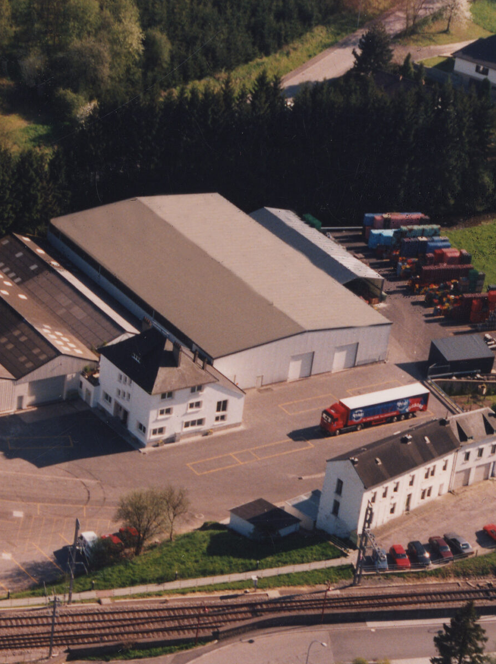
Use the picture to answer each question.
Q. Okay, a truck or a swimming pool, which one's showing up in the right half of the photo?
truck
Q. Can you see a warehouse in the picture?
Yes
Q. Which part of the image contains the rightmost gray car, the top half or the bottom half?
bottom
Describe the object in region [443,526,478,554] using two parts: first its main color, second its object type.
gray car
